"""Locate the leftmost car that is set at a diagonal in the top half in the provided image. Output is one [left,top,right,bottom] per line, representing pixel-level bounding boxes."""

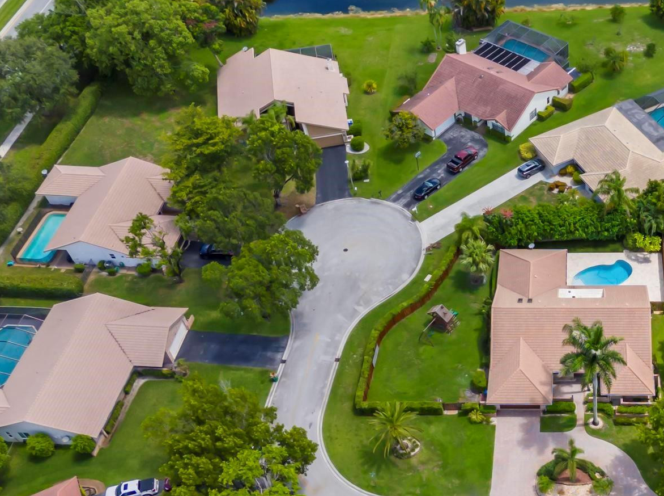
[414,180,441,200]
